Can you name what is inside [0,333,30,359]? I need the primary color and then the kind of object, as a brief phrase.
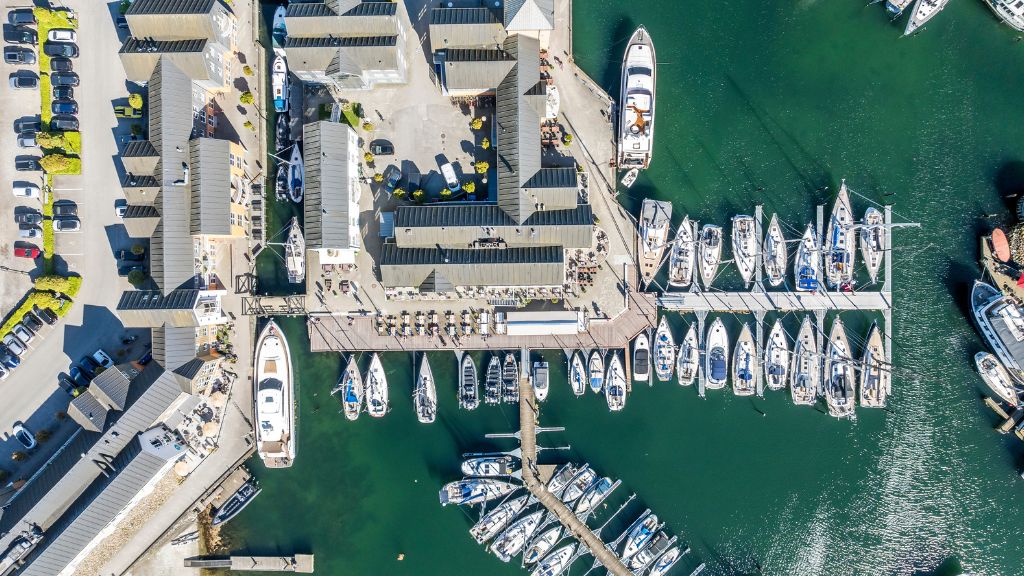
white car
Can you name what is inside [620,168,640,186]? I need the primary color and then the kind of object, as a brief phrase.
white boat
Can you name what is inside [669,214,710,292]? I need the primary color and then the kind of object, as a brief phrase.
white boat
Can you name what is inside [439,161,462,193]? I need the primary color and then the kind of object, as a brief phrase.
white vehicle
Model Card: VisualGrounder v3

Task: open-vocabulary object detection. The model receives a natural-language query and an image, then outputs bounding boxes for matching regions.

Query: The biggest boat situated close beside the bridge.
[253,320,297,470]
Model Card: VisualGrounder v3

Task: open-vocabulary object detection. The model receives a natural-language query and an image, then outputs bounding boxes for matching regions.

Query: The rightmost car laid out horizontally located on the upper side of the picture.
[368,141,397,155]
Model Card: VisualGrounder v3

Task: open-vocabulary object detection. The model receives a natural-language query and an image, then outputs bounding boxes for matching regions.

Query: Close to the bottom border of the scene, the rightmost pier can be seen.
[461,350,705,576]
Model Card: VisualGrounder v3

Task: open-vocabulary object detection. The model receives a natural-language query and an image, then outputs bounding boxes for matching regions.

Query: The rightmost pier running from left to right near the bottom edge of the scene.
[182,553,315,574]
